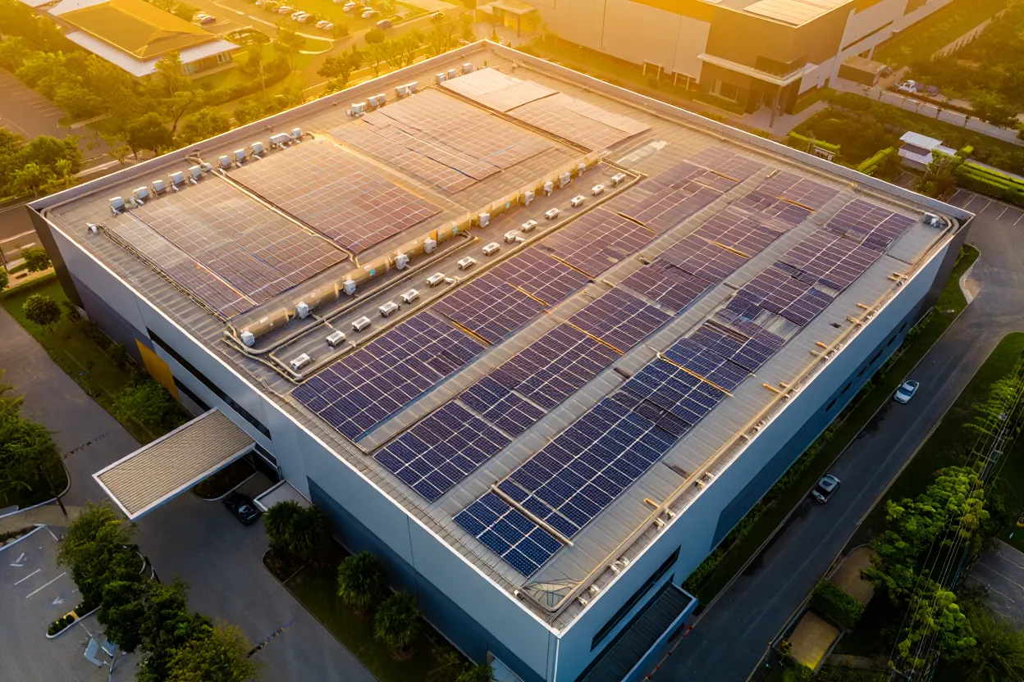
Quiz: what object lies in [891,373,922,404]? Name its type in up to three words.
car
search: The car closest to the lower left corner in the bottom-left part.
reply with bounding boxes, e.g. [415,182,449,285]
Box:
[217,493,263,531]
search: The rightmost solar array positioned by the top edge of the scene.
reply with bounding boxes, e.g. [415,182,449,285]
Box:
[744,0,838,25]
